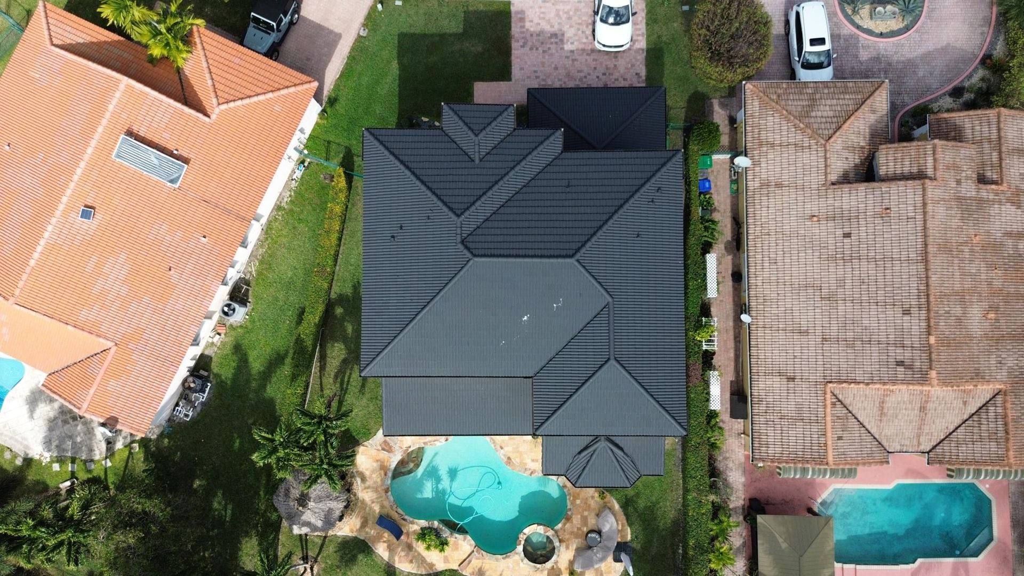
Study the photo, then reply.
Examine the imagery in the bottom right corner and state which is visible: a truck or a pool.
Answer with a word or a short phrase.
pool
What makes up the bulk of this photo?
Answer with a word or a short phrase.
buildings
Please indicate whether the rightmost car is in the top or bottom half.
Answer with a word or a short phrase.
top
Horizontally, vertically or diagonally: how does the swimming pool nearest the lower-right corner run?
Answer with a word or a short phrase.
horizontally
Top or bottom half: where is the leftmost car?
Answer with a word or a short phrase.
top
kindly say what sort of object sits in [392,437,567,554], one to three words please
swimming pool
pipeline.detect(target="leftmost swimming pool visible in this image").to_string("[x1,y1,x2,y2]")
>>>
[0,358,24,412]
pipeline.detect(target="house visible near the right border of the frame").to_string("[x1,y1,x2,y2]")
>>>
[730,78,1024,480]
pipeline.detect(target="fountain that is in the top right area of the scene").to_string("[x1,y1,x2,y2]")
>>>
[870,5,898,19]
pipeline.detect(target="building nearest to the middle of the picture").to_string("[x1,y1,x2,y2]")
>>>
[359,85,689,489]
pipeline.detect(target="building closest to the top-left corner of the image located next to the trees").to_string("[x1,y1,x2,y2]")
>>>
[0,0,326,438]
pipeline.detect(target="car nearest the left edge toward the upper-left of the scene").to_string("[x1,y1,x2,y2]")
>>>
[244,0,310,64]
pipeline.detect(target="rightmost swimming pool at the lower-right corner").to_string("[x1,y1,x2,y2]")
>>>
[821,484,991,563]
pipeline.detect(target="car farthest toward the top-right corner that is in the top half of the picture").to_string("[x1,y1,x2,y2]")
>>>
[788,0,841,79]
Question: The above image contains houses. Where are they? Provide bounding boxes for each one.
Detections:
[0,0,326,438]
[730,78,1024,480]
[359,85,689,489]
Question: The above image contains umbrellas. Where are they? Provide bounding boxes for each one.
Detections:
[276,455,360,536]
[619,551,635,576]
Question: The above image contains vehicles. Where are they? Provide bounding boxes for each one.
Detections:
[591,0,638,51]
[244,0,310,64]
[788,0,841,79]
